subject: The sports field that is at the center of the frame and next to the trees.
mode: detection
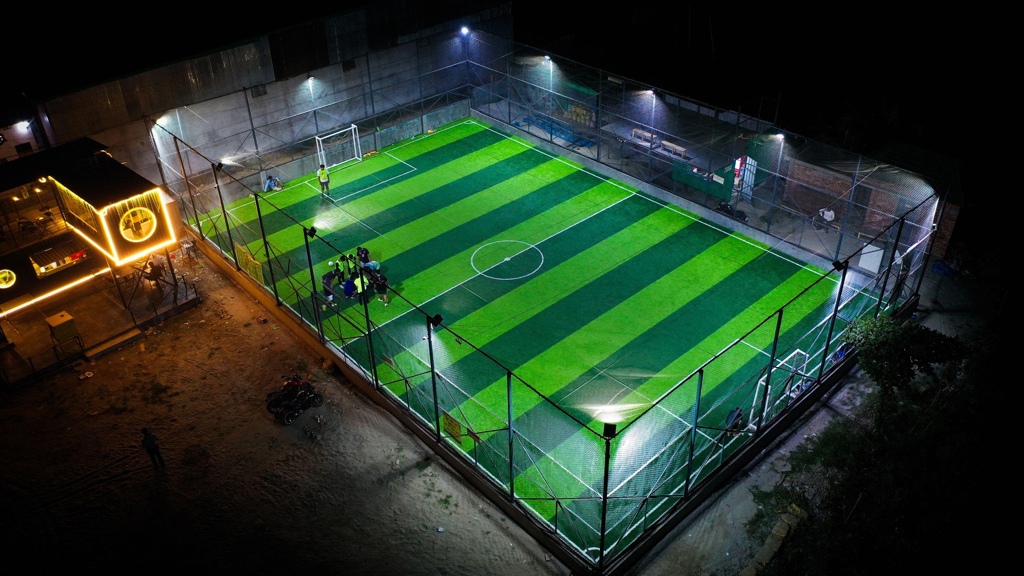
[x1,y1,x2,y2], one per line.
[185,117,894,566]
